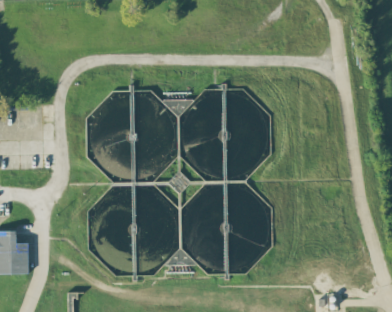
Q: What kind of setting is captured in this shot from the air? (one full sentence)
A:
This image shows an industrial area.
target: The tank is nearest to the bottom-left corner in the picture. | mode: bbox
[88,183,180,280]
